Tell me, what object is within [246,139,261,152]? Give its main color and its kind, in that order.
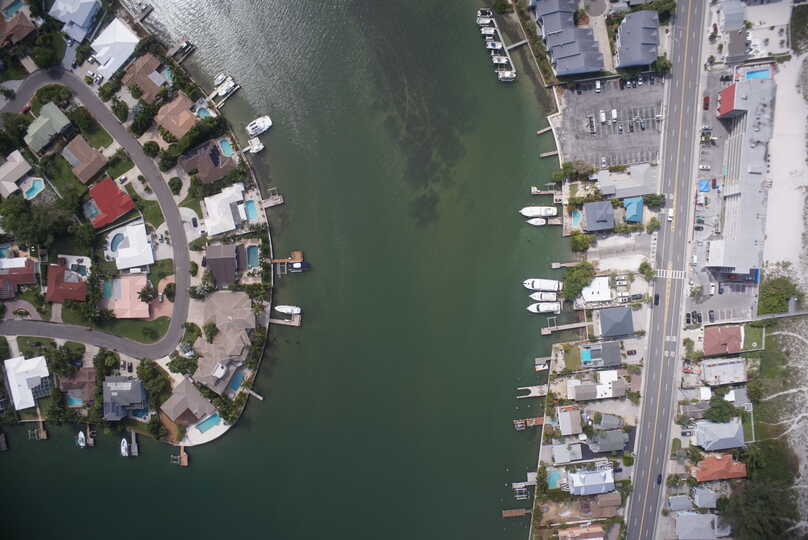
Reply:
white boat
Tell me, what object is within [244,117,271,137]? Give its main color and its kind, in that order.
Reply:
white boat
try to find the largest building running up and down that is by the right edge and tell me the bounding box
[701,80,779,283]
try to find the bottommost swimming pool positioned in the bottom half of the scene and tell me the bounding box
[548,470,562,490]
